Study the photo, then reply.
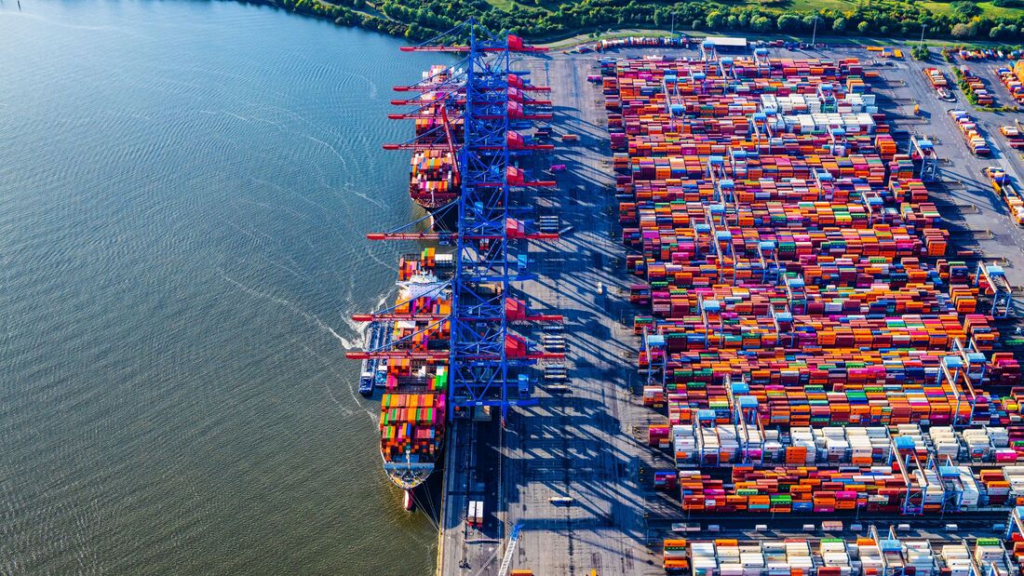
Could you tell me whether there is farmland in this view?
No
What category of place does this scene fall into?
port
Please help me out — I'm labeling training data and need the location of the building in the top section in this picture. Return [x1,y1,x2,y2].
[702,36,754,54]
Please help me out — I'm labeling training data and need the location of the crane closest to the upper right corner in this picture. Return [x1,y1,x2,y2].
[913,133,946,186]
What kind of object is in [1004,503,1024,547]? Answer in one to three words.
container crane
